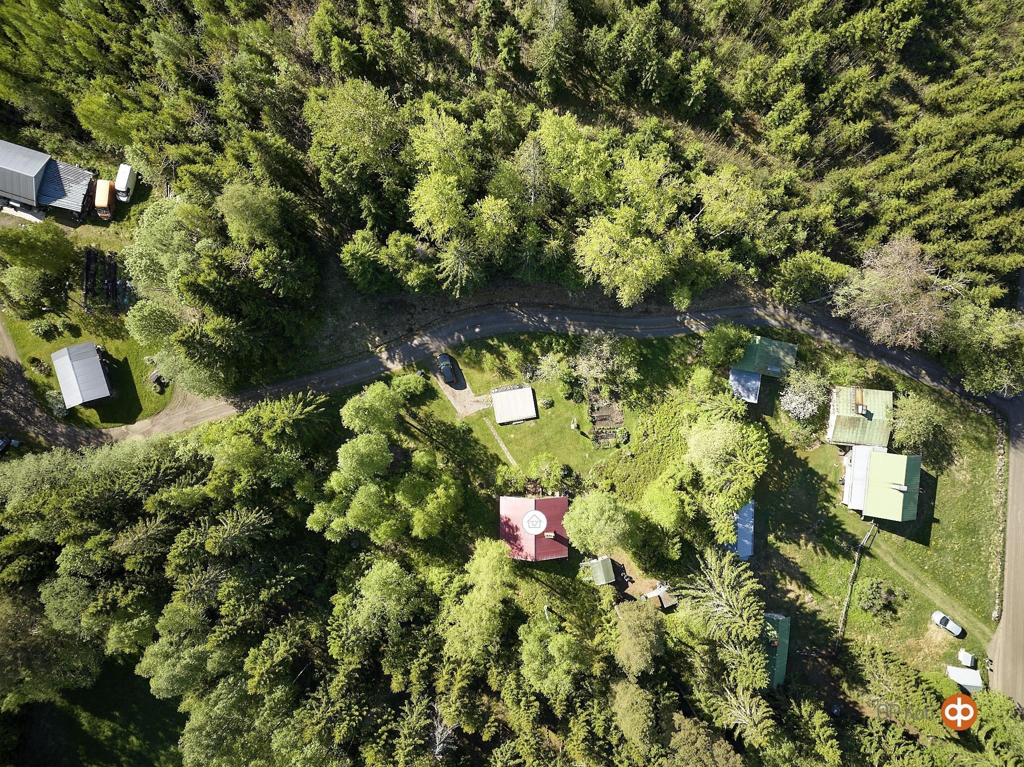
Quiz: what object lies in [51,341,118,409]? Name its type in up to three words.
shed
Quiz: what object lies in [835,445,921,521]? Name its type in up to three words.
house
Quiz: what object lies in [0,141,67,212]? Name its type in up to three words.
barn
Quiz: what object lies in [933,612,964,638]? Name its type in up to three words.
car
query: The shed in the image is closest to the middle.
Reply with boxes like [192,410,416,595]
[492,387,536,426]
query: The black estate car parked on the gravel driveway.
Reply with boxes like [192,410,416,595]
[437,353,455,386]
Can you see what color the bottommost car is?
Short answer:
white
